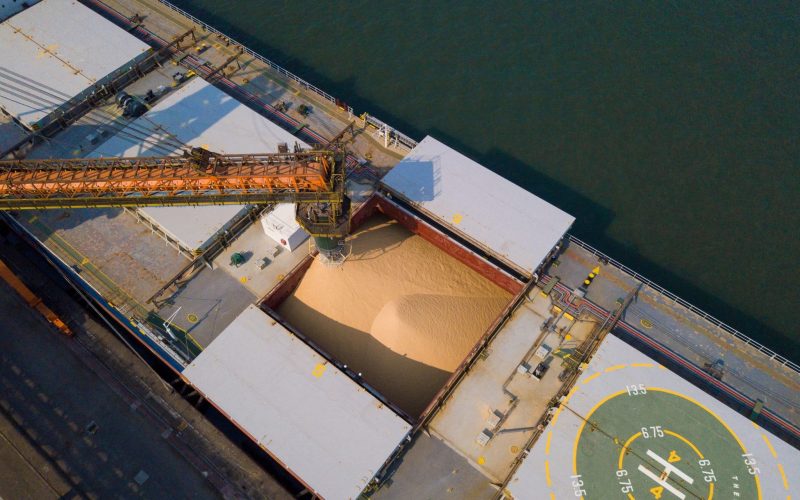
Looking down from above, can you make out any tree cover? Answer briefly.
No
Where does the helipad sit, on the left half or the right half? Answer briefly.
right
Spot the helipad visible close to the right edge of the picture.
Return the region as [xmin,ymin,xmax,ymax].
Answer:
[545,363,790,500]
